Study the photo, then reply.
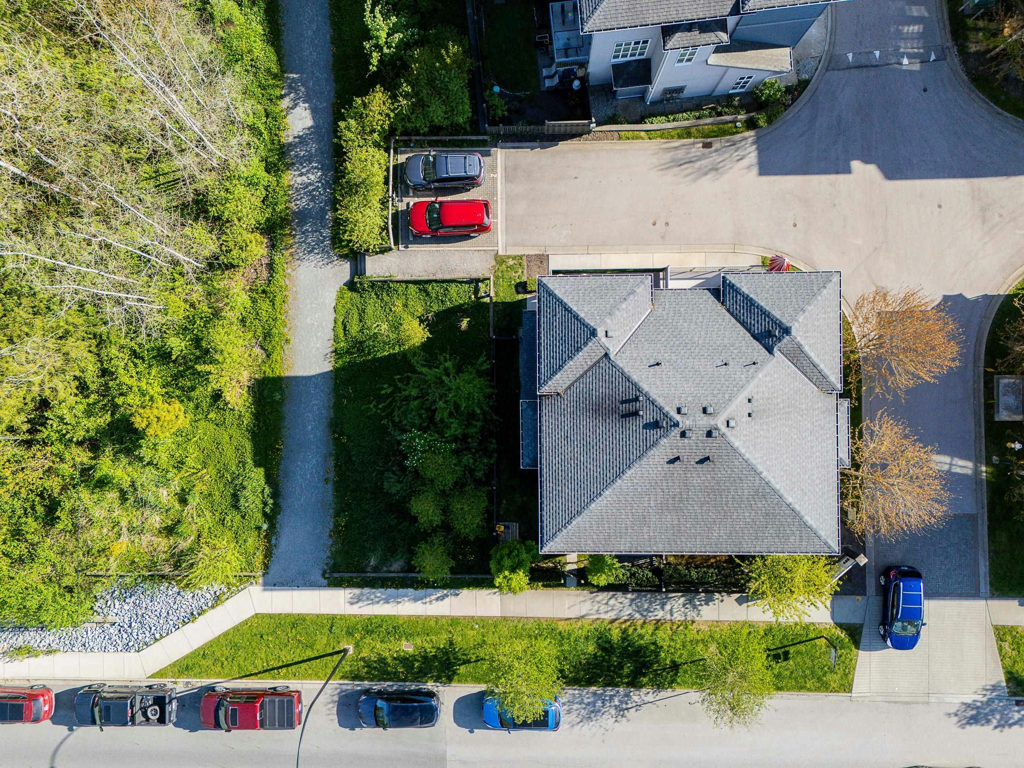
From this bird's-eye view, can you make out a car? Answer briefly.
Yes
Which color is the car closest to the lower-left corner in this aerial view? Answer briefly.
red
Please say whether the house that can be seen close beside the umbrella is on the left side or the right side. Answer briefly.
right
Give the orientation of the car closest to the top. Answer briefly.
from side to side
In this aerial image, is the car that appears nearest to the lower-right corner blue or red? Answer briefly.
blue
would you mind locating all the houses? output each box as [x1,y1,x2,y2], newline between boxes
[574,0,856,105]
[518,268,854,557]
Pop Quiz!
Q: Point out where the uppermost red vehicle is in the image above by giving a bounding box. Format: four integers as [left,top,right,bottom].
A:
[411,193,493,235]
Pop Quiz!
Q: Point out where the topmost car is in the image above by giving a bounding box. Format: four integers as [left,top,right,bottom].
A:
[404,147,485,189]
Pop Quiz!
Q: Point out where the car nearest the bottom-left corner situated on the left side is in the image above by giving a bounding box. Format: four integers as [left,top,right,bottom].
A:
[0,685,54,724]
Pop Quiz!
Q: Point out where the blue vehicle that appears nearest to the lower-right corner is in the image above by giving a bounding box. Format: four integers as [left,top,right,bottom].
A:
[880,567,928,652]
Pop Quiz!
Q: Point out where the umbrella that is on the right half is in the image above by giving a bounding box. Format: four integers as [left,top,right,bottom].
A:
[772,247,794,270]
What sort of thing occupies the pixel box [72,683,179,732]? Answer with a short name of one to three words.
truck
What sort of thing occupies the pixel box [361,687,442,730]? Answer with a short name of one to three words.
car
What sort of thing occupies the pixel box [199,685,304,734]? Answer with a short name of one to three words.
truck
